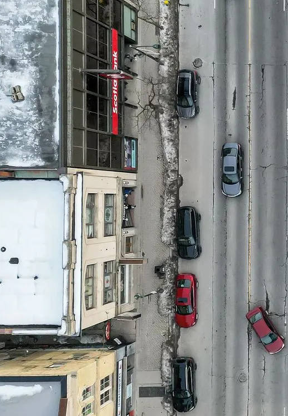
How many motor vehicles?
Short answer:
6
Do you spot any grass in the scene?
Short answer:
No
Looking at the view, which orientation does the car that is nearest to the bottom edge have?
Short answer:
from top to bottom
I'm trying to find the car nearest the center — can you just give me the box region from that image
[174,206,203,259]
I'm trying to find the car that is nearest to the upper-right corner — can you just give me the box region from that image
[174,69,202,119]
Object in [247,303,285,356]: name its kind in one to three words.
car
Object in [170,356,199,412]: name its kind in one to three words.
car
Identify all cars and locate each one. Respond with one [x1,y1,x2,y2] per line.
[247,303,285,356]
[174,69,202,119]
[173,274,201,328]
[174,206,203,259]
[219,144,245,198]
[170,356,199,412]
